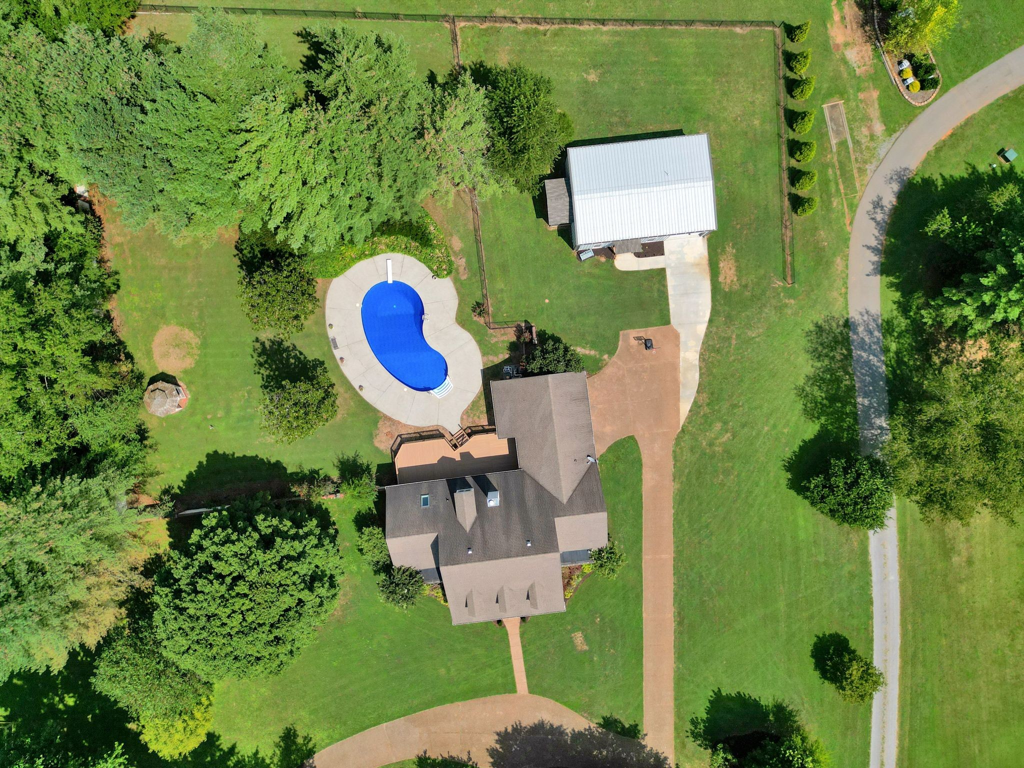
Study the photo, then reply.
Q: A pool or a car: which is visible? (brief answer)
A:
pool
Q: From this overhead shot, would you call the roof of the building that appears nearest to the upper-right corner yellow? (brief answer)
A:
No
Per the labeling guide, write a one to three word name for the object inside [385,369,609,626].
house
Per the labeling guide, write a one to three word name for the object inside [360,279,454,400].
swimming pool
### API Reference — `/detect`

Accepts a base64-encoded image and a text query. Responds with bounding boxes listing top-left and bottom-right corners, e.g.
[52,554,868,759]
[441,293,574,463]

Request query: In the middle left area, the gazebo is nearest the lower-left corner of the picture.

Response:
[144,381,188,417]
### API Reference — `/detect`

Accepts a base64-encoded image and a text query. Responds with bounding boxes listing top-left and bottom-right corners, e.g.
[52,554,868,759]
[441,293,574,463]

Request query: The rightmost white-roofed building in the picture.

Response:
[566,132,721,260]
